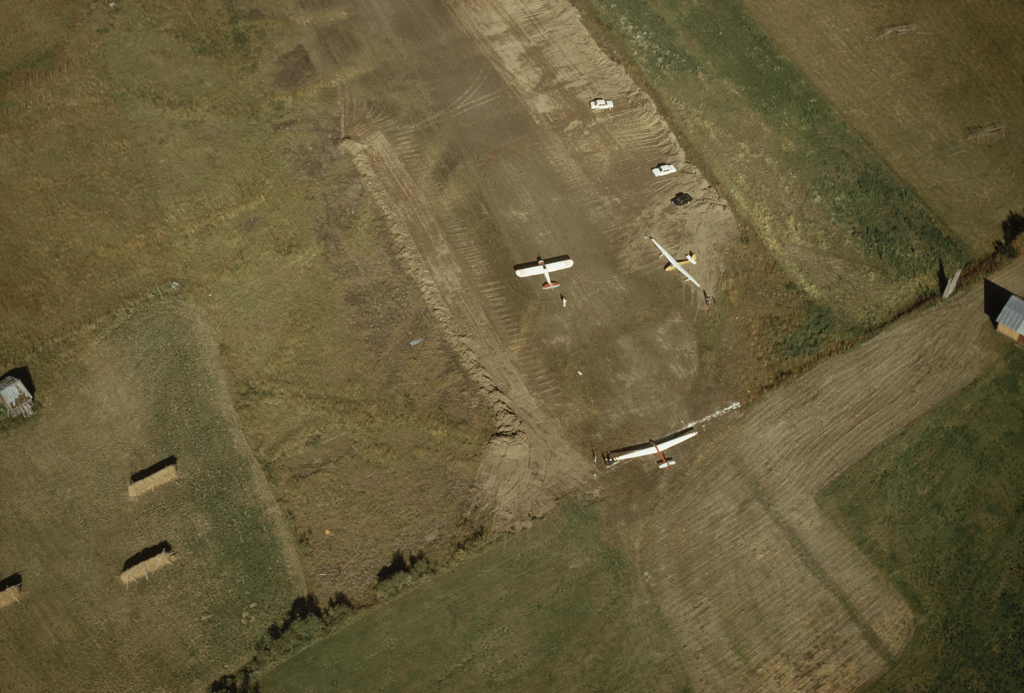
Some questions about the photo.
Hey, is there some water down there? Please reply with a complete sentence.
No, water can't be seen anywhere here.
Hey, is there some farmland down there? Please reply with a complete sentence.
Yes, farmland shows up in the scene.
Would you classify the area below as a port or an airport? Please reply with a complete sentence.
What you see here is an airport.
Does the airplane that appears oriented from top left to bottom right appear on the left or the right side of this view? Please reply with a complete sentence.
It is on the right.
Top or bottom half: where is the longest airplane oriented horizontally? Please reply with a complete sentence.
The bottom half of the photo is where the longest airplane oriented horizontally is.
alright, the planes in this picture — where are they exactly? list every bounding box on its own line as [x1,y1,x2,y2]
[515,258,574,289]
[613,432,700,472]
[651,238,701,286]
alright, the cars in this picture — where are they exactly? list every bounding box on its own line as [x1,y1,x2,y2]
[591,100,615,110]
[671,194,694,207]
[651,164,676,176]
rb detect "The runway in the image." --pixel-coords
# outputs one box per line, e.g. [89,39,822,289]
[293,0,744,558]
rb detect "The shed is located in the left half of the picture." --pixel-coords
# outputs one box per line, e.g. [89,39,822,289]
[0,374,32,416]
